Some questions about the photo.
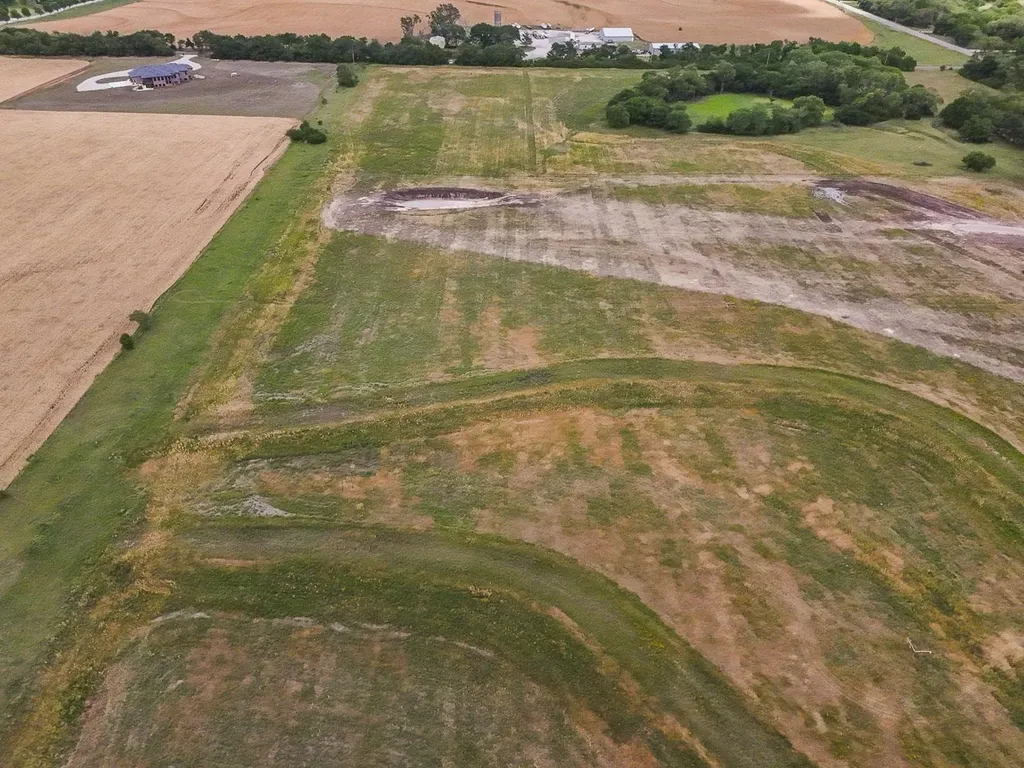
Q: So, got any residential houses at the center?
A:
No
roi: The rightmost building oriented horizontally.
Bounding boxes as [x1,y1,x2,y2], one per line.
[648,39,701,53]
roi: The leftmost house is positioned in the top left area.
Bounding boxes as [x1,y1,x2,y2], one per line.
[125,62,191,88]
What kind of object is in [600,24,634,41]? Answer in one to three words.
barn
